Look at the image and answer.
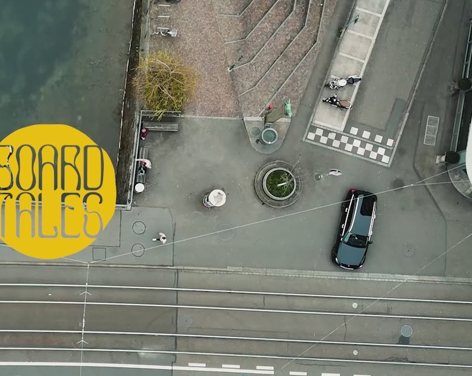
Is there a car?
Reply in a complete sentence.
Yes, looking at the shot, I can spot a car.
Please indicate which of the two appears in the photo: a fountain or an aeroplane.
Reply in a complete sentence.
This aerial view contains a fountain.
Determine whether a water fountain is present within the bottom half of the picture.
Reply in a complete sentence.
No, looking within the bottom half of the picture, there is no water fountain.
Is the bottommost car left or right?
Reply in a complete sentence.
The bottommost car appears in the right half of the scene.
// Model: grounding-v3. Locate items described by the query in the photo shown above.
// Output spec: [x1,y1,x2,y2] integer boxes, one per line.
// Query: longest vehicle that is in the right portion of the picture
[334,190,379,268]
